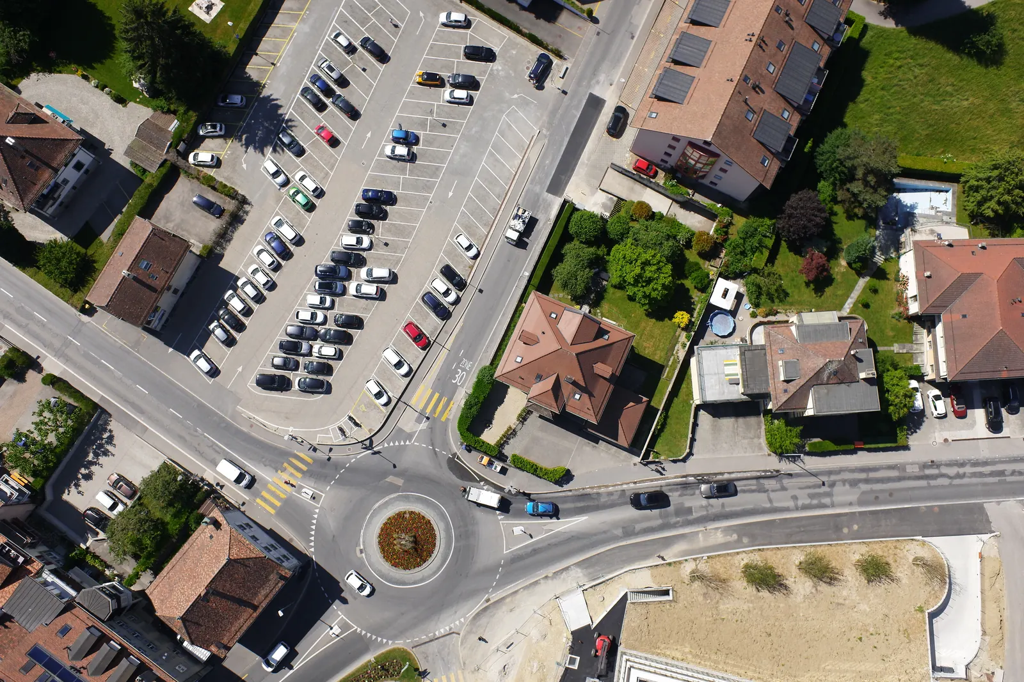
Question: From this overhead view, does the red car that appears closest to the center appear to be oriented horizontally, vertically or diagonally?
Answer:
diagonally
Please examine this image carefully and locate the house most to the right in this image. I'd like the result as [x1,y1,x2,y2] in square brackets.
[885,223,1024,385]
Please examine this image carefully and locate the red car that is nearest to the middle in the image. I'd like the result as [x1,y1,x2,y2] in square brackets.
[401,319,430,350]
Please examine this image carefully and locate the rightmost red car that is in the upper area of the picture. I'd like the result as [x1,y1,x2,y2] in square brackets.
[631,157,656,176]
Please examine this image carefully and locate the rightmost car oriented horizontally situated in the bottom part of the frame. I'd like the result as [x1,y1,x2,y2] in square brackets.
[698,481,737,499]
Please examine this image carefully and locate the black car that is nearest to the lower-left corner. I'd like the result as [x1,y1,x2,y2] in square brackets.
[82,506,113,533]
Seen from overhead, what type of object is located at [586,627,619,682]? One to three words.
work vehicle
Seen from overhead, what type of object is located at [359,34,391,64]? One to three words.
car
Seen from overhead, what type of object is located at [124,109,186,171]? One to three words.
shed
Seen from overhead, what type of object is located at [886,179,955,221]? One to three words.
swimming pool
